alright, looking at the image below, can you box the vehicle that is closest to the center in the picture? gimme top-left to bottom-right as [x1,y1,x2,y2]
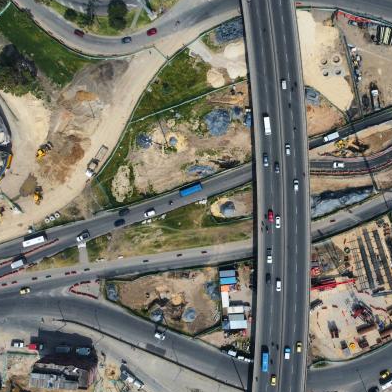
[178,182,202,196]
